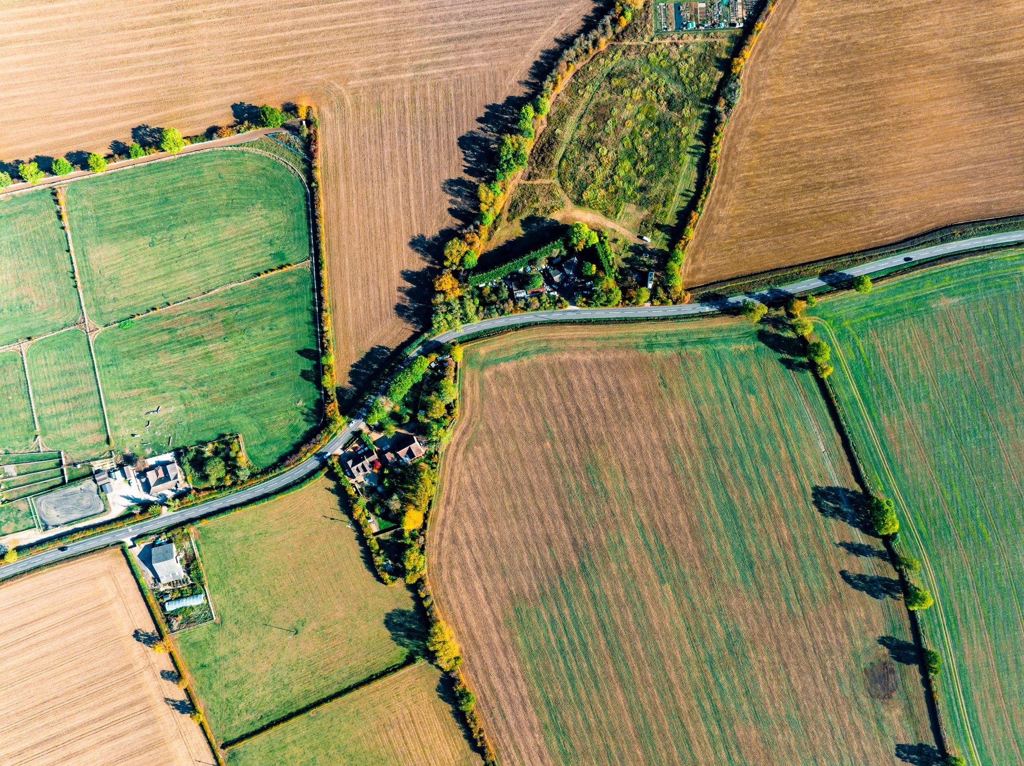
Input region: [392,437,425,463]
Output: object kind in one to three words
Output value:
house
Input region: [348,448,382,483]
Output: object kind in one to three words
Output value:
house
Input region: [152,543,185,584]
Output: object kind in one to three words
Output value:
barn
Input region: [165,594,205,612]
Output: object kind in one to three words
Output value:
greenhouse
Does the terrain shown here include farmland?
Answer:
Yes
